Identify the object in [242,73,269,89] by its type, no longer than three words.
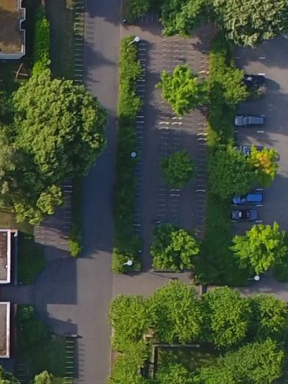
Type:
car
